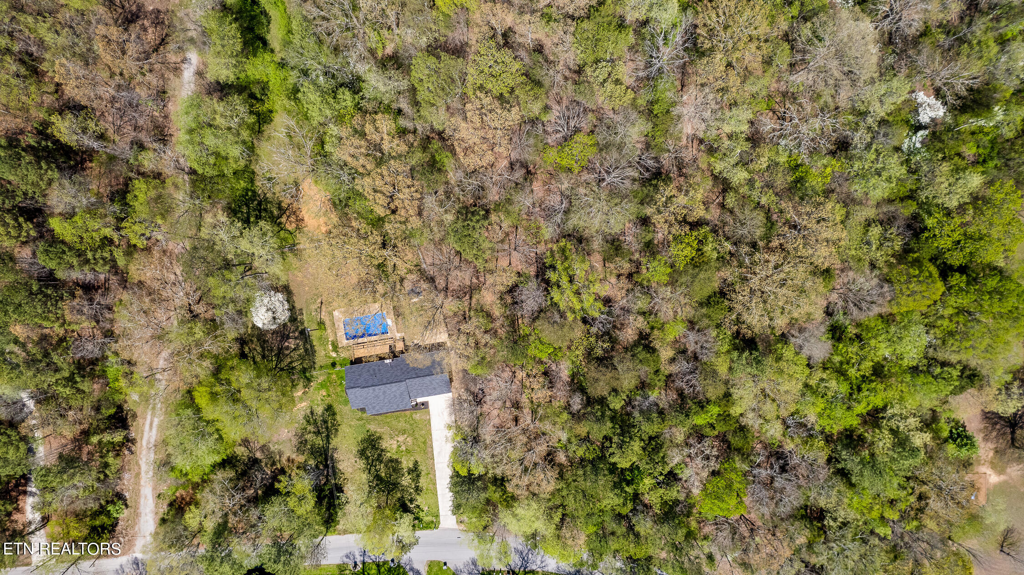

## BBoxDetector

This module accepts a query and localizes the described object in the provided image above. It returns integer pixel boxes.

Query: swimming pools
[341,312,390,342]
